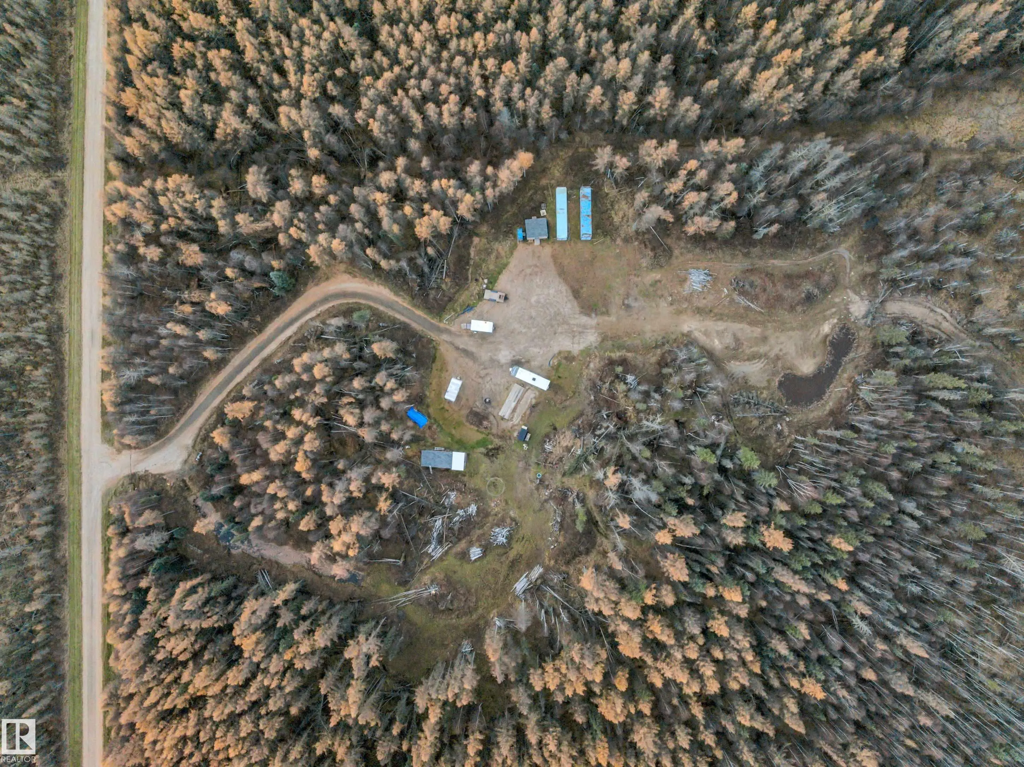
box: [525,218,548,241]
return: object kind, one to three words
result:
shed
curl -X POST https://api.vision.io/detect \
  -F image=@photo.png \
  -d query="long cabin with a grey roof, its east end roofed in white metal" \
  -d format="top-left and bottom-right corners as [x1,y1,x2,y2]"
[421,450,469,470]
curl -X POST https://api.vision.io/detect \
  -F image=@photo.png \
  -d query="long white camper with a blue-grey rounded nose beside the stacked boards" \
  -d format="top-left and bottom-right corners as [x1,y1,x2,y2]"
[508,366,550,390]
